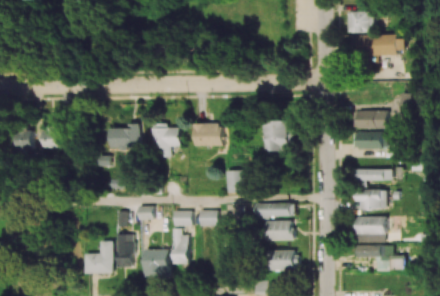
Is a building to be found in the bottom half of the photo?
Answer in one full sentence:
Yes, the scene does show a building in the bottom half of the photo.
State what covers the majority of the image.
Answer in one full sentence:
The scene is dominated by trees.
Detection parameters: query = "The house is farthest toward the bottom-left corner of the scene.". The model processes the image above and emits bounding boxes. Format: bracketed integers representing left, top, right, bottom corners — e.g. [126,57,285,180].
[84,242,114,275]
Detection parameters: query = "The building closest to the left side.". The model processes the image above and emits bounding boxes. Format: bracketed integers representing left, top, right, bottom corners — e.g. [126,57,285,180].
[12,130,36,148]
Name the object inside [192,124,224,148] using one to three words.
house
